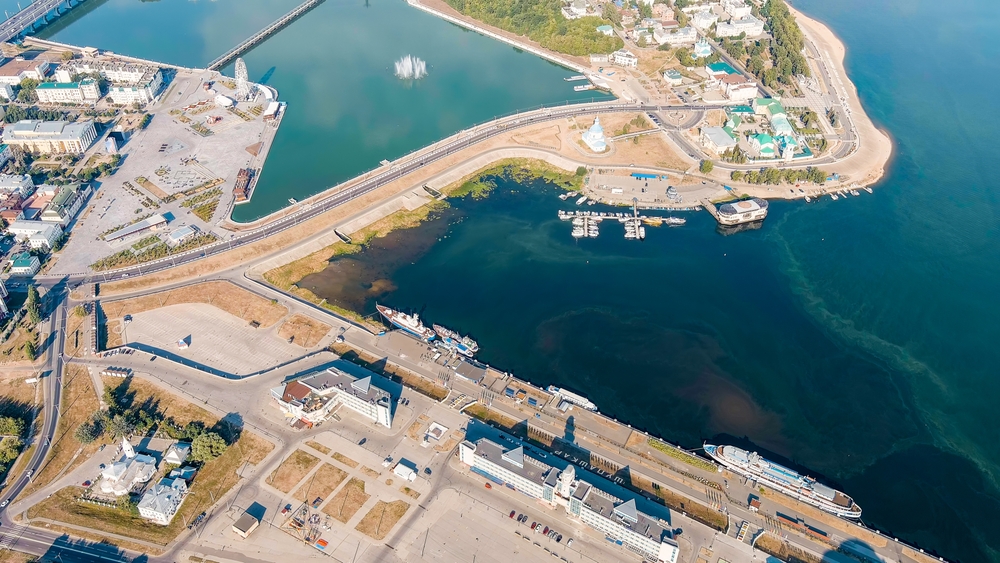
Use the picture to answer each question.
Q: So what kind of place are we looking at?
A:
port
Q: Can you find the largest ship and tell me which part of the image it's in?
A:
bottom right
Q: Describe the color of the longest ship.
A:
white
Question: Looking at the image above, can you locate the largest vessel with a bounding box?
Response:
[706,438,863,517]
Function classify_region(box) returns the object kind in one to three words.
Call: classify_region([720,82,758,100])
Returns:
house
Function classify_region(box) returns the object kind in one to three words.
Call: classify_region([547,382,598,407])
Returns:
boat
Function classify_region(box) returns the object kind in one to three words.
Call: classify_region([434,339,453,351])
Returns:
boat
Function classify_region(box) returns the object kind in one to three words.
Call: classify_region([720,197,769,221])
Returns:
building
